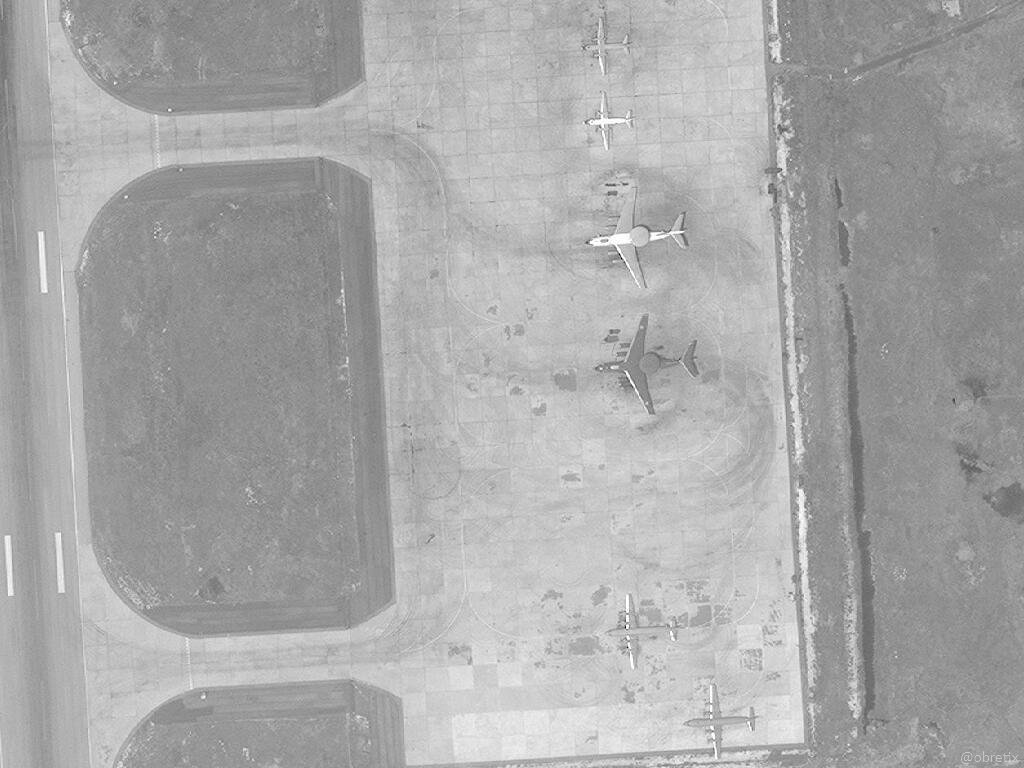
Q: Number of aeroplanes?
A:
6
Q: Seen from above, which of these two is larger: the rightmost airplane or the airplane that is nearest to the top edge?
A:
the rightmost airplane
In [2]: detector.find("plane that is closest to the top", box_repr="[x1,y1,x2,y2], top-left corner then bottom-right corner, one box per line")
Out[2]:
[582,18,631,76]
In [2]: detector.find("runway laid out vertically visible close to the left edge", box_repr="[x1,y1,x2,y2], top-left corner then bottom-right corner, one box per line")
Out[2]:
[0,0,92,768]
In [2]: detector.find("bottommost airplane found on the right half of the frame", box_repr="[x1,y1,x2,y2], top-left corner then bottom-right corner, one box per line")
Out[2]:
[684,683,757,759]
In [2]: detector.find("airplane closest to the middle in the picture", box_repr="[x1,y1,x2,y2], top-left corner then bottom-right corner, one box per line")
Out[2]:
[595,314,695,414]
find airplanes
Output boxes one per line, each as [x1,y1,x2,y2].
[582,18,631,76]
[684,683,757,759]
[606,593,679,669]
[586,188,687,288]
[595,314,695,414]
[584,92,633,150]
